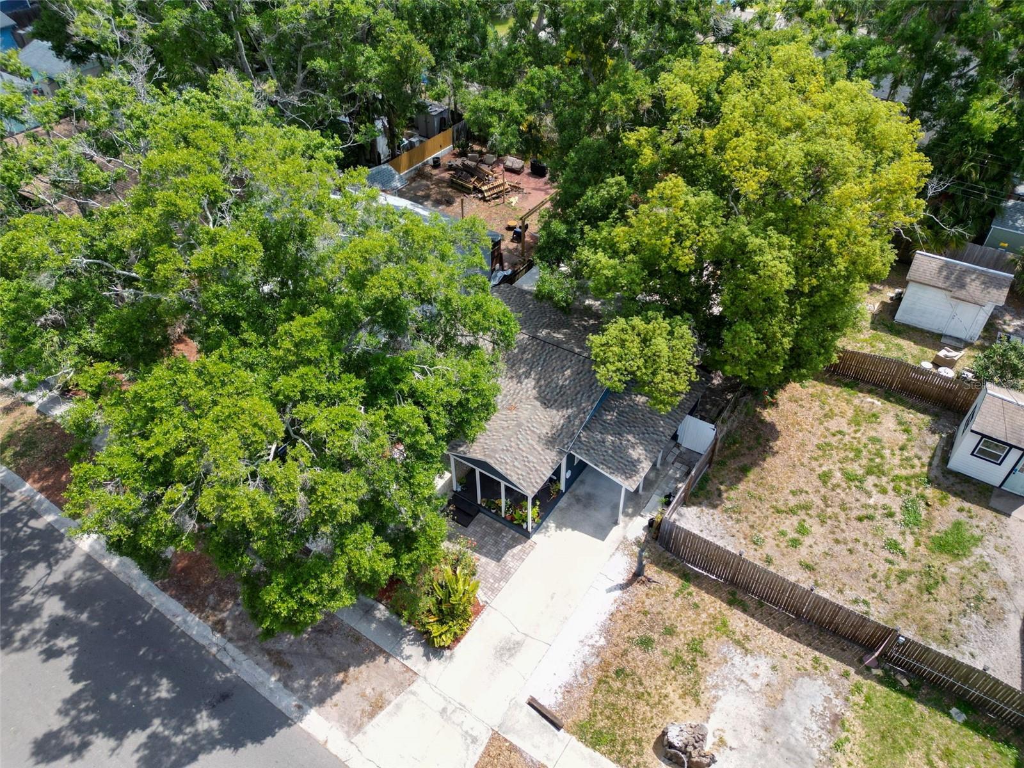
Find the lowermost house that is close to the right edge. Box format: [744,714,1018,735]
[949,367,1024,495]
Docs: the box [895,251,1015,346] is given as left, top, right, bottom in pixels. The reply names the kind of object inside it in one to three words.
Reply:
shed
